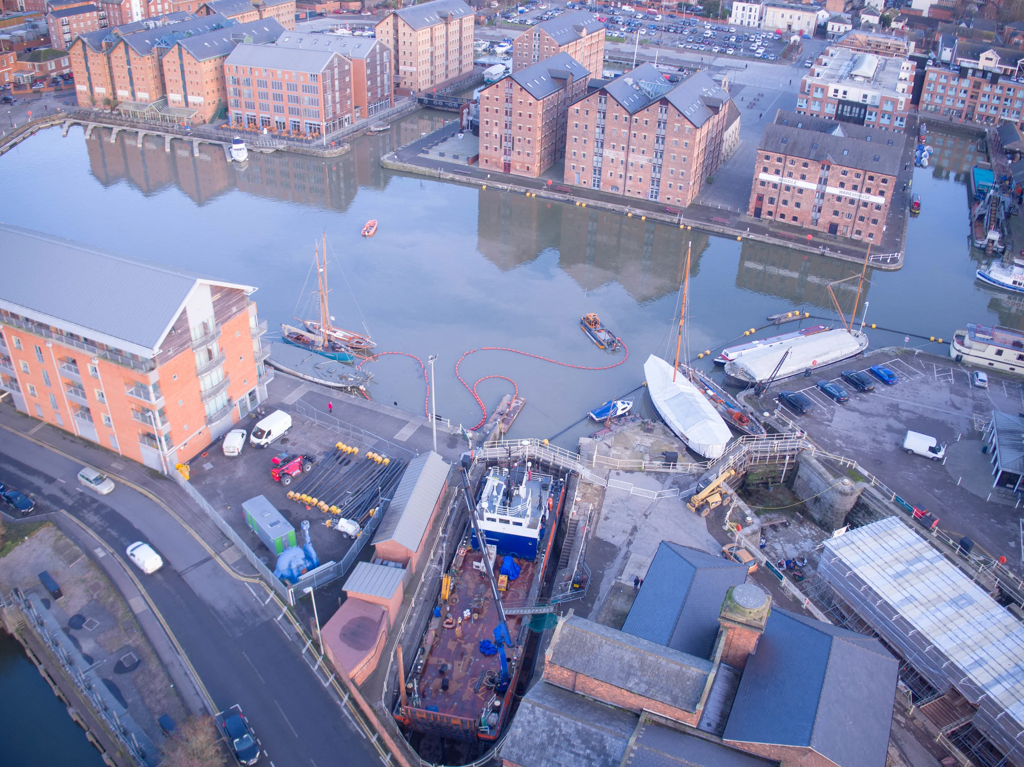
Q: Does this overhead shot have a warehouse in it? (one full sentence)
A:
Yes, there is a warehouse in the image.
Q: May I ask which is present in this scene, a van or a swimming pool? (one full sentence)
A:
Looking from above, you can make out a van.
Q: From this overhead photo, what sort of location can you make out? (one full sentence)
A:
What you see here is a port.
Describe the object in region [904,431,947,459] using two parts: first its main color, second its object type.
white van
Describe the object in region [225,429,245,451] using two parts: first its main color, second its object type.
white vehicle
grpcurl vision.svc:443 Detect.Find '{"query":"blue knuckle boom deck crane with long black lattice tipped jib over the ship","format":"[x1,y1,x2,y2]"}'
[458,464,519,698]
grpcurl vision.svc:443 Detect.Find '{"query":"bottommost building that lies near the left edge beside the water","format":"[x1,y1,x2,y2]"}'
[0,212,270,473]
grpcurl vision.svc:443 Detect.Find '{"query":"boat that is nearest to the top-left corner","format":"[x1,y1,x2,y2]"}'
[230,135,245,163]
